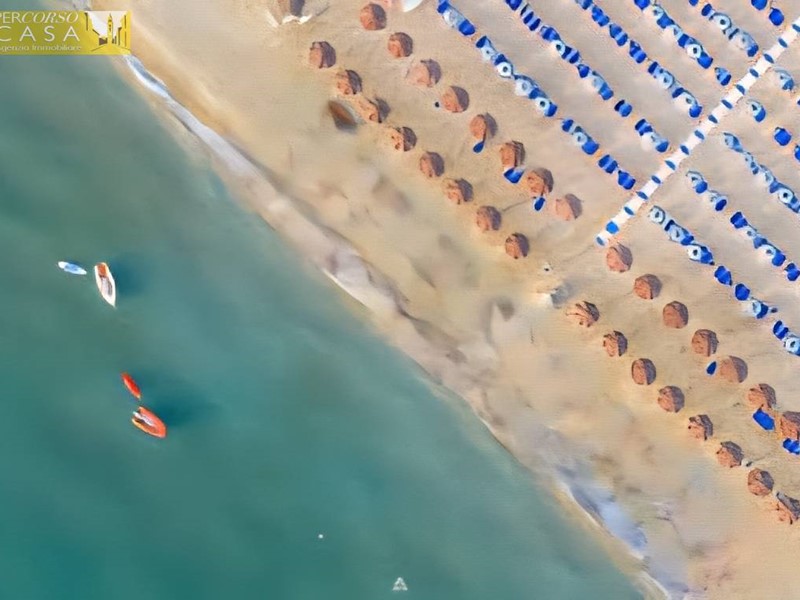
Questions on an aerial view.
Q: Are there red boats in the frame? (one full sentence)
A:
Yes, a red boat can be made out from above.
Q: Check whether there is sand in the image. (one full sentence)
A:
Yes, there's sand in this view.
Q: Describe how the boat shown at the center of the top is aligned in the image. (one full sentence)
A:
The boat shown at the center of the top has been laid out on a diagonal relative to the frame.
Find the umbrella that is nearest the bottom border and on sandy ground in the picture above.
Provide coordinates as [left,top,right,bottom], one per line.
[774,498,798,522]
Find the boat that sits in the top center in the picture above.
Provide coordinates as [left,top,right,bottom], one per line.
[330,101,356,129]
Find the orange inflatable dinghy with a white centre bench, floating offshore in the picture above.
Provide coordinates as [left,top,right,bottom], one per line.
[132,408,169,439]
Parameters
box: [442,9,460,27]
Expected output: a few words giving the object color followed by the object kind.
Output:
white umbrella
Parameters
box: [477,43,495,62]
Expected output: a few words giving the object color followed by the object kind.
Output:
white umbrella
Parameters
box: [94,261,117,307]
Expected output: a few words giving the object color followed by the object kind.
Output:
white boat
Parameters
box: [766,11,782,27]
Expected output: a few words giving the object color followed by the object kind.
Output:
blue umbrella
